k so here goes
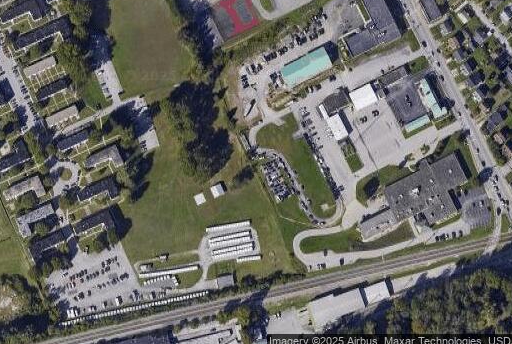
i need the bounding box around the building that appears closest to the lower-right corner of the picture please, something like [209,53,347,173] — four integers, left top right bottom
[367,281,392,306]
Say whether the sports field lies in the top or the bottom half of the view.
top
